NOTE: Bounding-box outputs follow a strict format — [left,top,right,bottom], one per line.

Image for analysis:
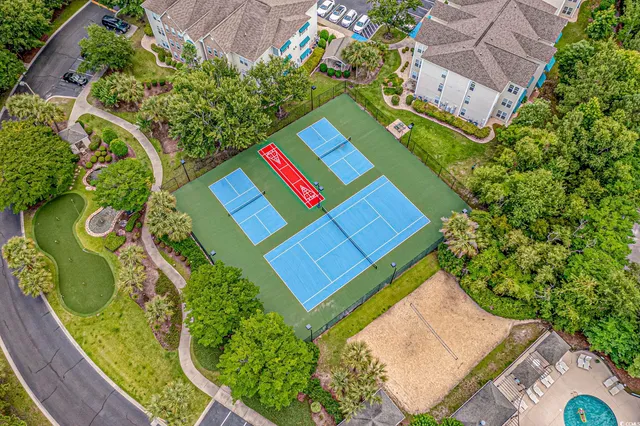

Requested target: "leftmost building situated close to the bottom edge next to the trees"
[342,386,404,426]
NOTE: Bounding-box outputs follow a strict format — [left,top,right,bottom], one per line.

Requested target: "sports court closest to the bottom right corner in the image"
[345,269,544,414]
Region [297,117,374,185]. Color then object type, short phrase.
blue sports court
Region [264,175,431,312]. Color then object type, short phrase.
blue tennis court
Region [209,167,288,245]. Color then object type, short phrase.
blue sports court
